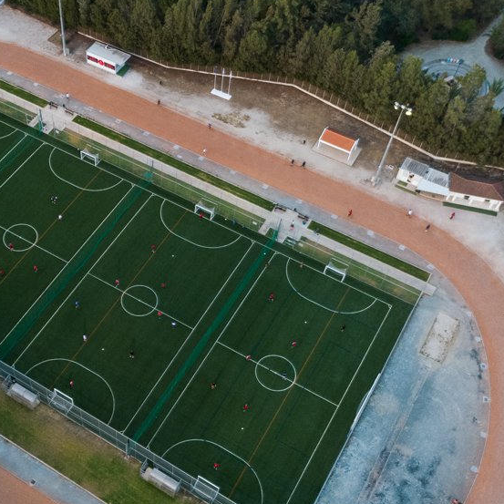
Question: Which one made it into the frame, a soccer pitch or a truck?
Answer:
soccer pitch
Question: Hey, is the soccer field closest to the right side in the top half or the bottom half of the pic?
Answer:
bottom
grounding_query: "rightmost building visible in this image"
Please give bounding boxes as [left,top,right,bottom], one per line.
[442,161,504,223]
